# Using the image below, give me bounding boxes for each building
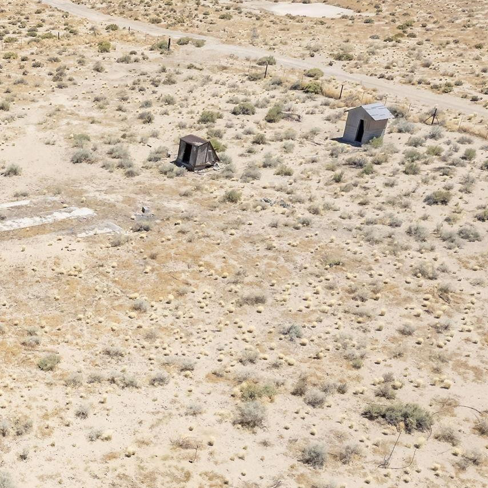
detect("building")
[177,136,218,168]
[343,106,393,145]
